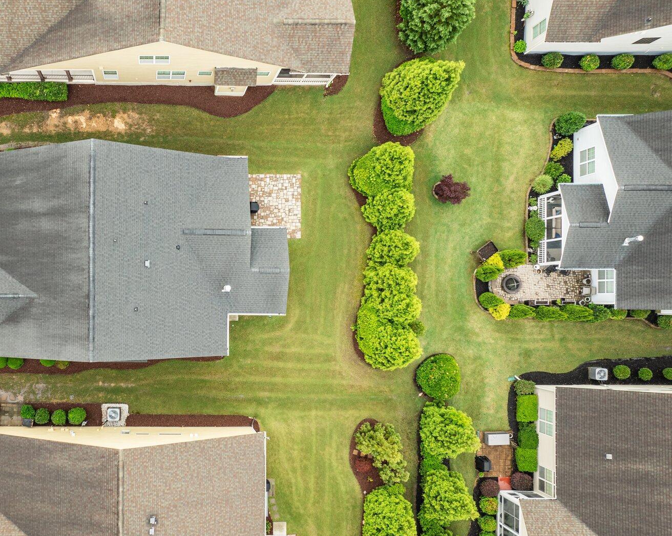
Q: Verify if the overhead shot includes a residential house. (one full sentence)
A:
Yes, the picture does show a residential house.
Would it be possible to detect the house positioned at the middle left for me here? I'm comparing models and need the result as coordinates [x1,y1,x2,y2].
[0,139,289,362]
